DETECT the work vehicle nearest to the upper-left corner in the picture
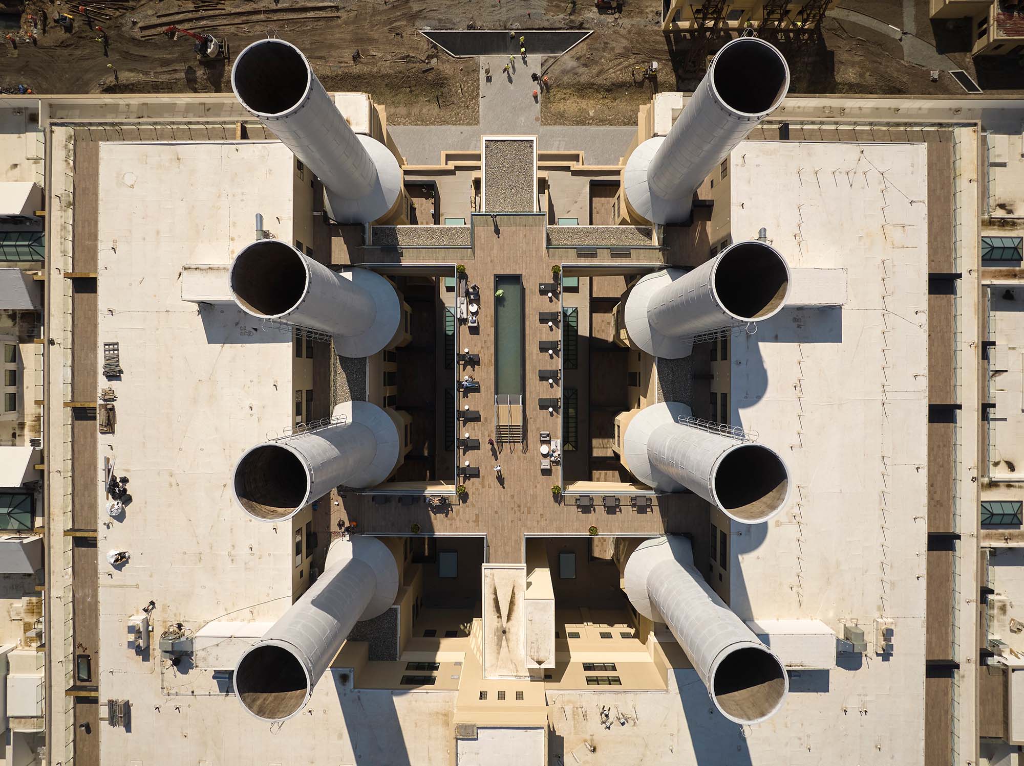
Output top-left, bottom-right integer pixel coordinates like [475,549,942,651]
[51,13,76,30]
